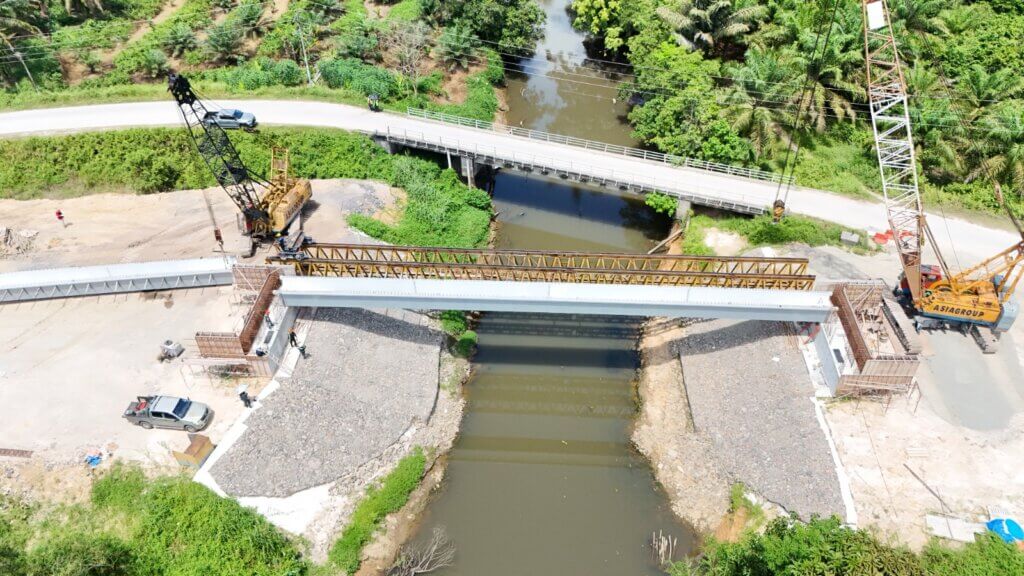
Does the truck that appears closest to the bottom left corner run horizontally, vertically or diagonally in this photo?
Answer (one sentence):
In this picture, the truck that appears closest to the bottom left corner is oriented horizontally.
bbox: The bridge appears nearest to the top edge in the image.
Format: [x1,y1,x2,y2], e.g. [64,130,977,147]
[372,104,781,239]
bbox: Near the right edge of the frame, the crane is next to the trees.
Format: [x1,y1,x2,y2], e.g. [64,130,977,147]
[773,0,1024,357]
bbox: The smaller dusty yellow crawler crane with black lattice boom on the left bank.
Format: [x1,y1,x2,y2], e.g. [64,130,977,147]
[155,78,320,268]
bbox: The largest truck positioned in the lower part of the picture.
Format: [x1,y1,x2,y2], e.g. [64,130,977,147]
[118,391,211,431]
